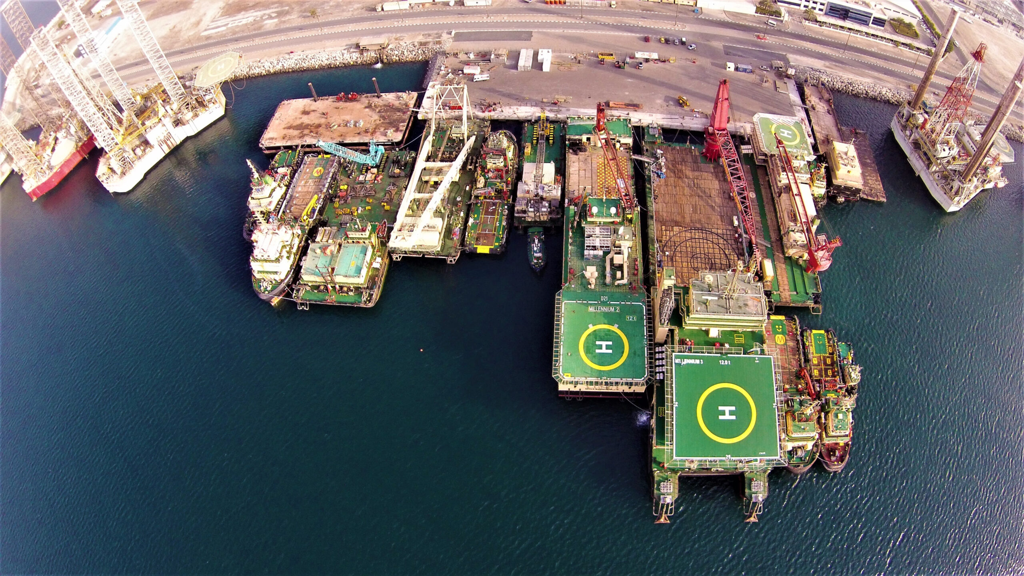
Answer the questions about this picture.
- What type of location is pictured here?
port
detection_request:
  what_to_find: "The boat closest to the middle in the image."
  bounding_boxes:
[526,229,547,274]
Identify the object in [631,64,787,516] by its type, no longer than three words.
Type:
vessel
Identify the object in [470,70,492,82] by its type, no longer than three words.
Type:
vehicle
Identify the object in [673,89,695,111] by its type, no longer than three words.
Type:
work vehicle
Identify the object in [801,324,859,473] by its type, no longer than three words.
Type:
ship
